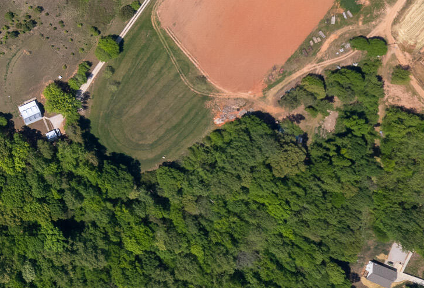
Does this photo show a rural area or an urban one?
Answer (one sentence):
The area shown here is rural.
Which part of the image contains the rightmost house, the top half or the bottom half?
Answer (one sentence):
It is in the bottom half that the rightmost house appears.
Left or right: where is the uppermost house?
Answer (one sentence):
You can find the uppermost house on the left side of the picture.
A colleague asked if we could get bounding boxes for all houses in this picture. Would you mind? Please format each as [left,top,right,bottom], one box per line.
[19,97,42,124]
[362,261,394,288]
